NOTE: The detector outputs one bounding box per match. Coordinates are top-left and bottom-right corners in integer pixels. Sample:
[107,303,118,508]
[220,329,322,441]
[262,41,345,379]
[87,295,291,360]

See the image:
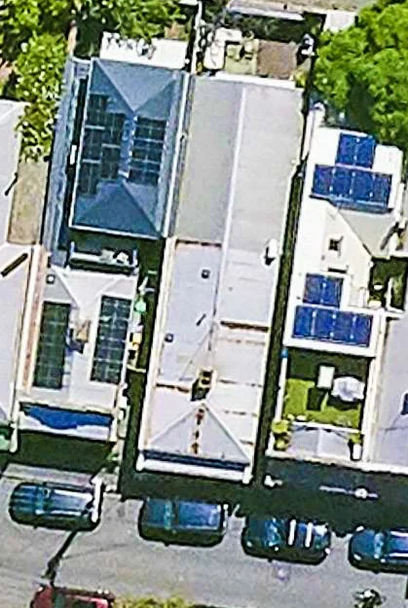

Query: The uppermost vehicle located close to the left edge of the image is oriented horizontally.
[8,478,97,521]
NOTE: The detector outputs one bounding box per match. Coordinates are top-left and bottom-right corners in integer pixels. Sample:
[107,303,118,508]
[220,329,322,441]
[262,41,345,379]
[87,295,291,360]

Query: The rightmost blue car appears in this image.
[347,525,408,566]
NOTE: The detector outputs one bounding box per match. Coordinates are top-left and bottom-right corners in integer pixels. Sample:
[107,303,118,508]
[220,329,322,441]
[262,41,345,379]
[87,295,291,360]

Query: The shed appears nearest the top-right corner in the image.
[323,9,356,32]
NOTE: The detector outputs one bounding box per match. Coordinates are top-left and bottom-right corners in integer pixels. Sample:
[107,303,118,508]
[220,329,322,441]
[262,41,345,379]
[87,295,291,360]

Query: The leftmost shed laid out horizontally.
[226,0,305,21]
